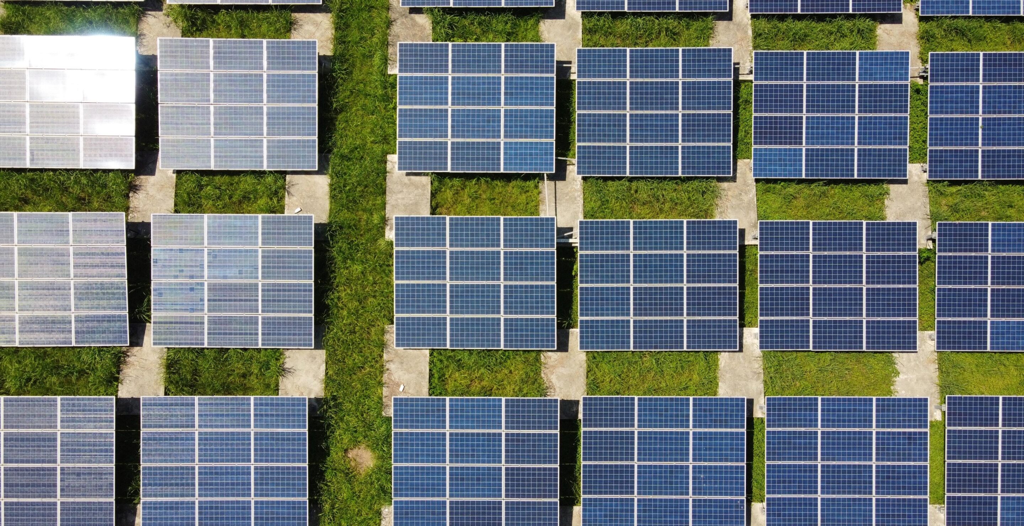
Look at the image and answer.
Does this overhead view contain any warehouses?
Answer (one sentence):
No, I find no warehouse anywhere in the image.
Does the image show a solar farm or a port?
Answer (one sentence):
What you see here is a solar farm.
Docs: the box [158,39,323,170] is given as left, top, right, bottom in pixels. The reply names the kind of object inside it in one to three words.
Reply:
solar array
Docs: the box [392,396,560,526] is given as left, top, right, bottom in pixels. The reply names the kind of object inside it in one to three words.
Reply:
solar array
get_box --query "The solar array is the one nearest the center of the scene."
[394,216,557,349]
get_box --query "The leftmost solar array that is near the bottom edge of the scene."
[0,395,130,526]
